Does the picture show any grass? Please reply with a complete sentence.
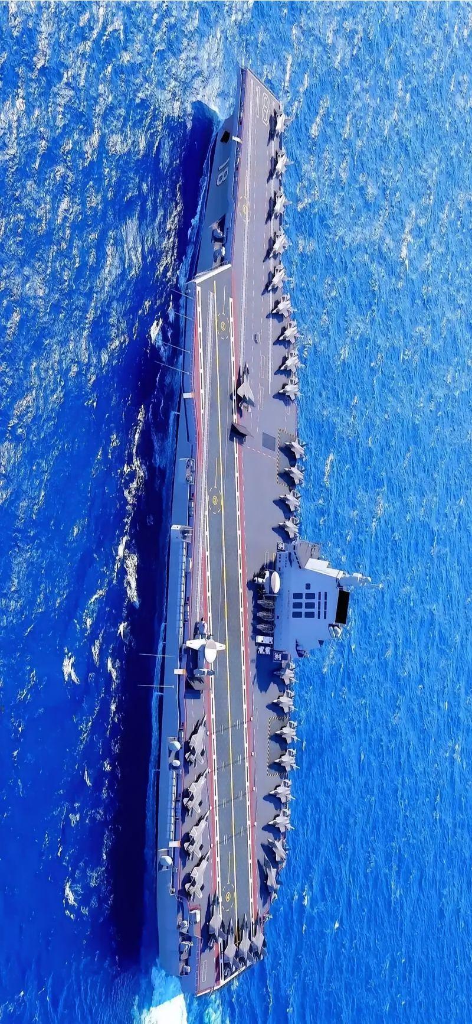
No, no grass is visible.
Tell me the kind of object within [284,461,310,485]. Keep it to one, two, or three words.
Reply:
airplane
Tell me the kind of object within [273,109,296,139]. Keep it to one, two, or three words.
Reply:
airplane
